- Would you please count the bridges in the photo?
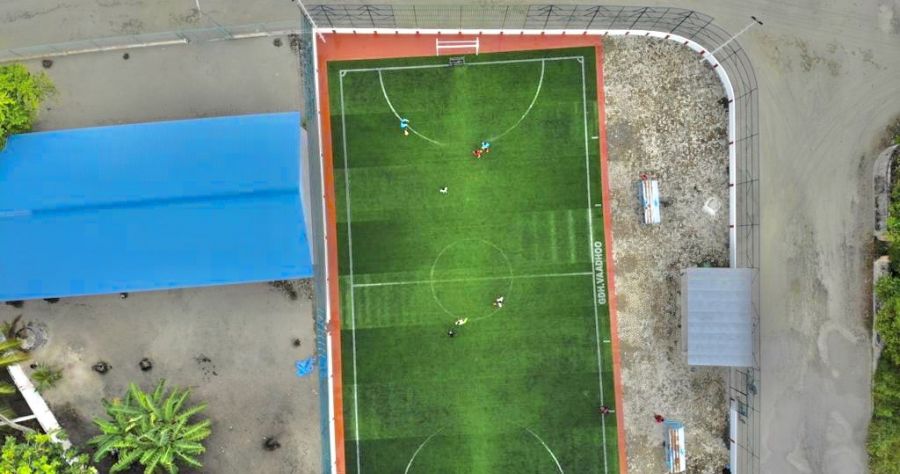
0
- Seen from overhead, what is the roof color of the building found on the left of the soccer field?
blue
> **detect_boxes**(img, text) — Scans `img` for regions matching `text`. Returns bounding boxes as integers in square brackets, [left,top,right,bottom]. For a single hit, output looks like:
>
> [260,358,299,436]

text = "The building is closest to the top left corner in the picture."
[0,110,314,305]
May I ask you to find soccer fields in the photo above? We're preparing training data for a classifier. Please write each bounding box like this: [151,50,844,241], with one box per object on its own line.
[318,34,627,474]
